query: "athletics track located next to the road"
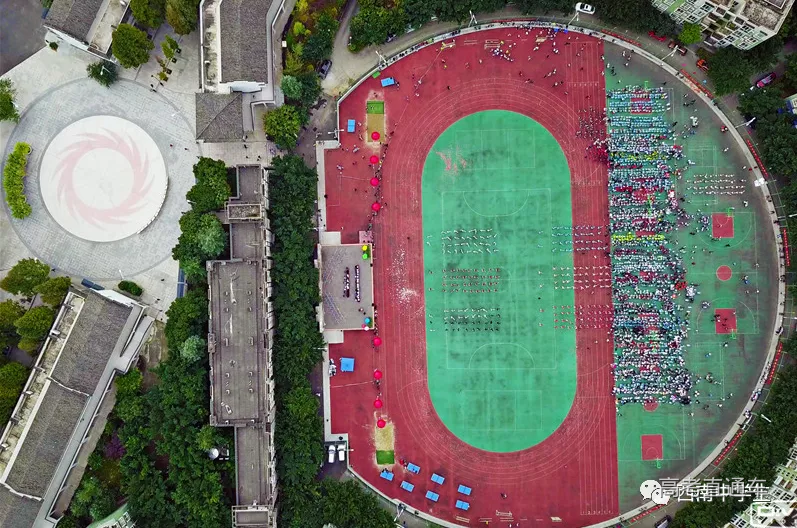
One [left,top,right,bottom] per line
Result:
[325,26,620,528]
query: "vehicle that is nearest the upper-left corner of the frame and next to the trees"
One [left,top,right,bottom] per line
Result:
[318,58,331,76]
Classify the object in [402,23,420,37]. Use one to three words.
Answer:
vehicle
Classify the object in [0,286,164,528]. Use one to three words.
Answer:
building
